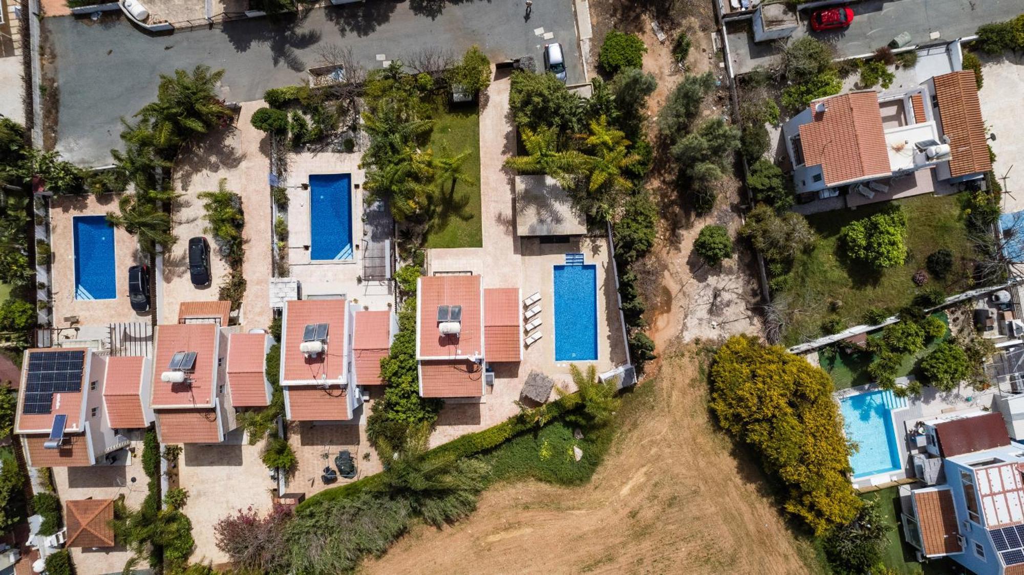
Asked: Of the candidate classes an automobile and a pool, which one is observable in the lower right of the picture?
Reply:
pool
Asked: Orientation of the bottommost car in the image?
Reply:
vertically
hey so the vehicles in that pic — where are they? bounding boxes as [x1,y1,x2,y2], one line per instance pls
[808,6,852,33]
[186,238,214,286]
[543,40,568,86]
[125,264,150,312]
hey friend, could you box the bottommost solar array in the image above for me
[988,525,1024,556]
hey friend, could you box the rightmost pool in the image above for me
[835,386,911,484]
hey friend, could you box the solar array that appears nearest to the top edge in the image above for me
[23,351,85,414]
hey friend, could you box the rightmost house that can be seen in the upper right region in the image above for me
[782,69,993,194]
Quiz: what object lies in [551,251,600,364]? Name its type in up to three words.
swimming pool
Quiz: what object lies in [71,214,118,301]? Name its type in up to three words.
swimming pool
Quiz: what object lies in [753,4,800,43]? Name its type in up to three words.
building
